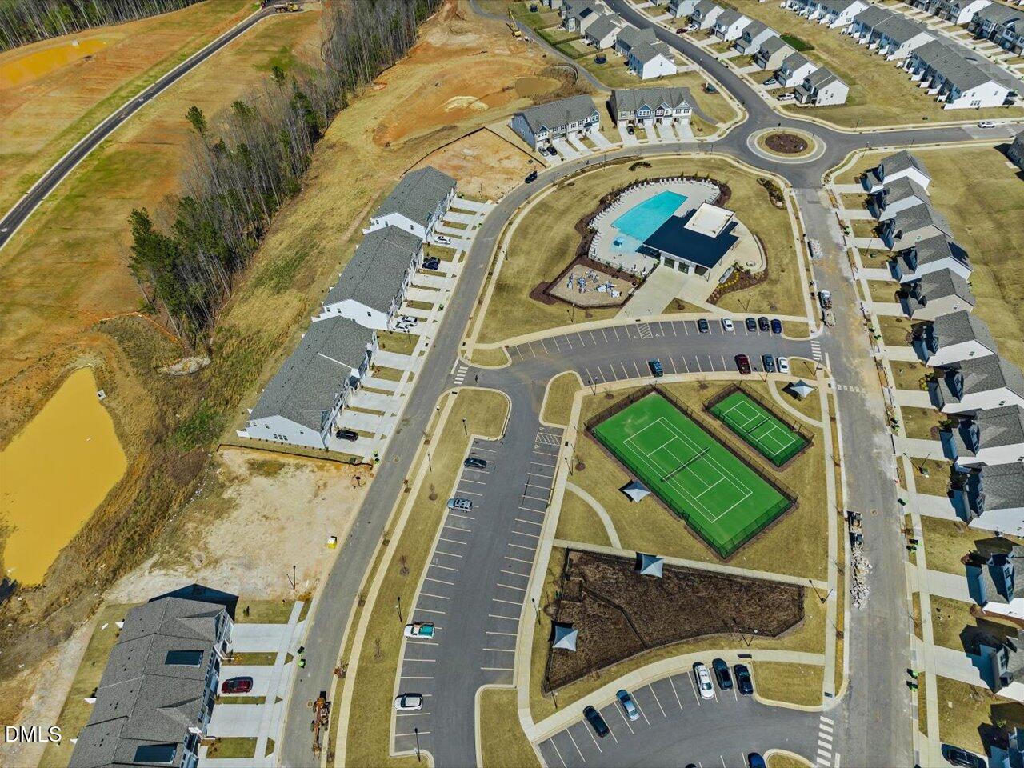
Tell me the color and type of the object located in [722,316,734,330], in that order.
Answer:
white vehicle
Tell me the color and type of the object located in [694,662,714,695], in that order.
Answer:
white car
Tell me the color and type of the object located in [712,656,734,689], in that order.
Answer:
black car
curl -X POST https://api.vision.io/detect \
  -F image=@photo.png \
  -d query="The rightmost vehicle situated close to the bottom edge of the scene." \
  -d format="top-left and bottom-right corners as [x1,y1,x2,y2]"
[948,741,985,768]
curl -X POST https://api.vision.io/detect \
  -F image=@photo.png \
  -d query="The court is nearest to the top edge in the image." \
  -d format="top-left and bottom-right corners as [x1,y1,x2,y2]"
[715,392,805,458]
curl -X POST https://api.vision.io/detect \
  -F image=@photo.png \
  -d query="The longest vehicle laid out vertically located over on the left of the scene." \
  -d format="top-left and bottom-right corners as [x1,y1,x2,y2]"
[307,686,330,758]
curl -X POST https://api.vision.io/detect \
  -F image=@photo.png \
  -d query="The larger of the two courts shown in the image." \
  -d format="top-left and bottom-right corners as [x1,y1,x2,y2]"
[595,393,790,549]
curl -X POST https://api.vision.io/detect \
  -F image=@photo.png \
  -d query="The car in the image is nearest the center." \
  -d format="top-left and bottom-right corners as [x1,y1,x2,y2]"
[463,454,488,467]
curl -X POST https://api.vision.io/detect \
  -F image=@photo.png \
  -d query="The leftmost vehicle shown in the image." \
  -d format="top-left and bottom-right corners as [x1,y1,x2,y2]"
[220,675,252,692]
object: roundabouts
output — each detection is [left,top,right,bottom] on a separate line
[747,127,828,165]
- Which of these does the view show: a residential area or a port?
residential area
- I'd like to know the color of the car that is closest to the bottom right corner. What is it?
black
